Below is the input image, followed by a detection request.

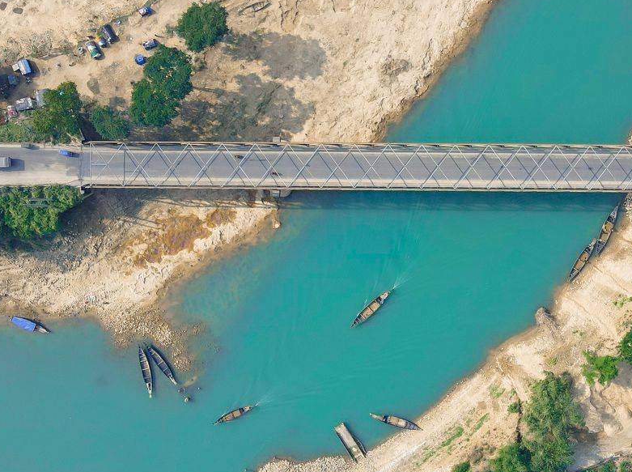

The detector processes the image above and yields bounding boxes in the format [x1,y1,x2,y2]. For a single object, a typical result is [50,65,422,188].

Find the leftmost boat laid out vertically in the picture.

[138,345,152,398]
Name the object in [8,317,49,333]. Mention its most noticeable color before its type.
blue boat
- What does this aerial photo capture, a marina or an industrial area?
marina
